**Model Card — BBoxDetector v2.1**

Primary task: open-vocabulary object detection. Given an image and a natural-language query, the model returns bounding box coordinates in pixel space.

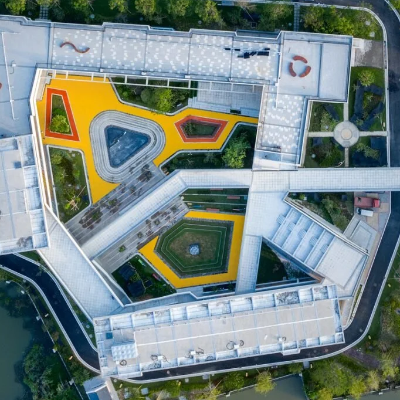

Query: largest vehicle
[354,197,381,210]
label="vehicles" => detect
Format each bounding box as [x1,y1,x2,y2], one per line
[354,197,381,210]
[357,209,374,218]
